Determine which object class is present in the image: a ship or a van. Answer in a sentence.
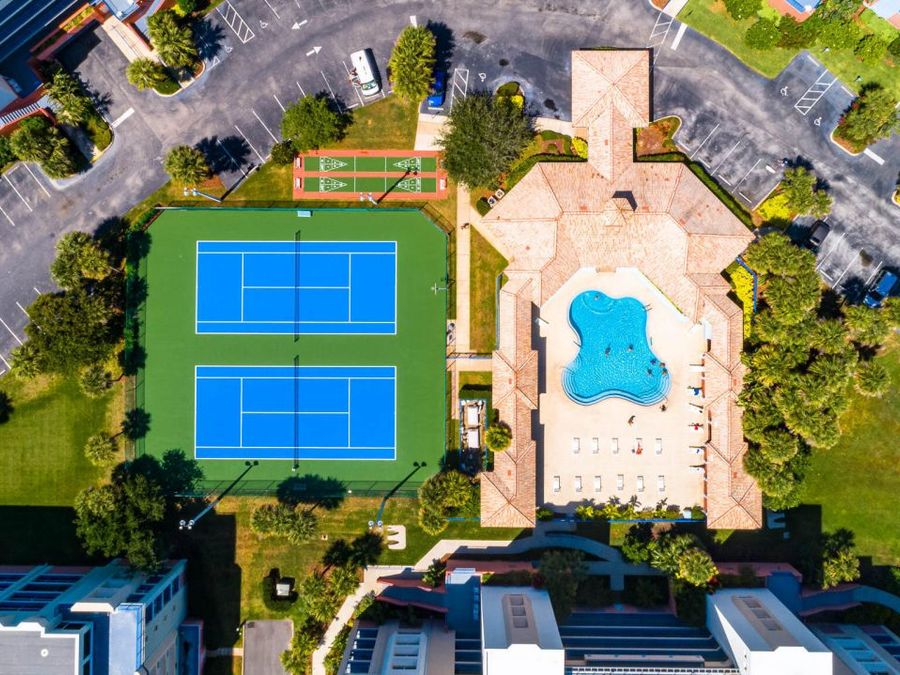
The image shows a van.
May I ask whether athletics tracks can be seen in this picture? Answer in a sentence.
No, no athletics track is visible in the scene.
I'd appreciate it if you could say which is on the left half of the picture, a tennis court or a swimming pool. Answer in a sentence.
Looking on the left half of the picture, you will find a tennis court.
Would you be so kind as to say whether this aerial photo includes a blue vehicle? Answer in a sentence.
Yes, there is a blue vehicle in the image.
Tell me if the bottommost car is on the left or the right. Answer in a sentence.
It is on the right.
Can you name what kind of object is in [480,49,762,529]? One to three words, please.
building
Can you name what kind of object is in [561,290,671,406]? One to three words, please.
swimming pool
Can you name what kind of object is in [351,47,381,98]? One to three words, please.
van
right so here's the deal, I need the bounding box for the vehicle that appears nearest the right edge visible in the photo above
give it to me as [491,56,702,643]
[864,267,900,307]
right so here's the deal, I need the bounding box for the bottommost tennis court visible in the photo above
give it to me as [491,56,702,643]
[135,349,447,489]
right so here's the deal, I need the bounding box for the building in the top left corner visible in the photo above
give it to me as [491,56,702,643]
[0,0,149,117]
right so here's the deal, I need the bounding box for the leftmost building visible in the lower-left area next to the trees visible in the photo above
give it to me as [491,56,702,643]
[0,559,204,675]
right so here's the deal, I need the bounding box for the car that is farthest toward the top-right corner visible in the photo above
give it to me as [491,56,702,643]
[805,215,840,253]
